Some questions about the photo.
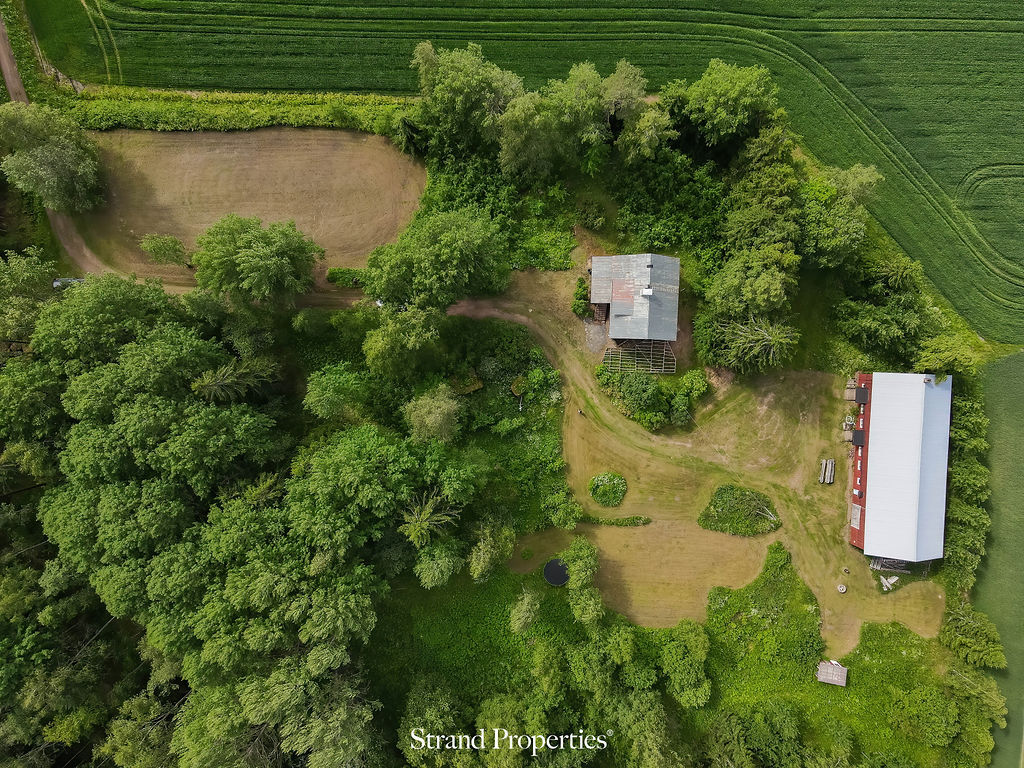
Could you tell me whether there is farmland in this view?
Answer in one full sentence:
Yes, the picture does contain farmland.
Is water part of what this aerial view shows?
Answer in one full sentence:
No, the scene doesn't show any water.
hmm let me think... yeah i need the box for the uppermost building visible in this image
[590,253,679,342]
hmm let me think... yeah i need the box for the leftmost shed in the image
[452,372,484,394]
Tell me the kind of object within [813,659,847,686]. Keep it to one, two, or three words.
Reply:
shed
